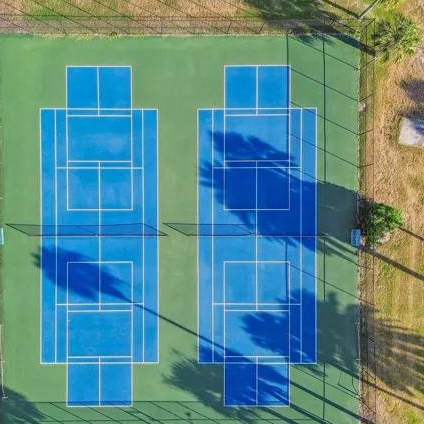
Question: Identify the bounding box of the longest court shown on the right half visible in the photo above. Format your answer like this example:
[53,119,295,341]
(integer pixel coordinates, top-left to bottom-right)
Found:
[197,108,316,364]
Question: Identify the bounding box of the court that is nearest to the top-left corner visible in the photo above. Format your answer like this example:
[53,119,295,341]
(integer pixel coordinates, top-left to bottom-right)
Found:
[66,66,132,211]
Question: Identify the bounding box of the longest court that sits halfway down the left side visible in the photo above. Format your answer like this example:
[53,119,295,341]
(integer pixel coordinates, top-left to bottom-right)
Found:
[39,108,158,364]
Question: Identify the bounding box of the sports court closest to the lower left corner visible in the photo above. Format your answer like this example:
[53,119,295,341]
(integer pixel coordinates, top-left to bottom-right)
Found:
[66,262,132,407]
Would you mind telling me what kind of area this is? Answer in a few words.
sports ground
